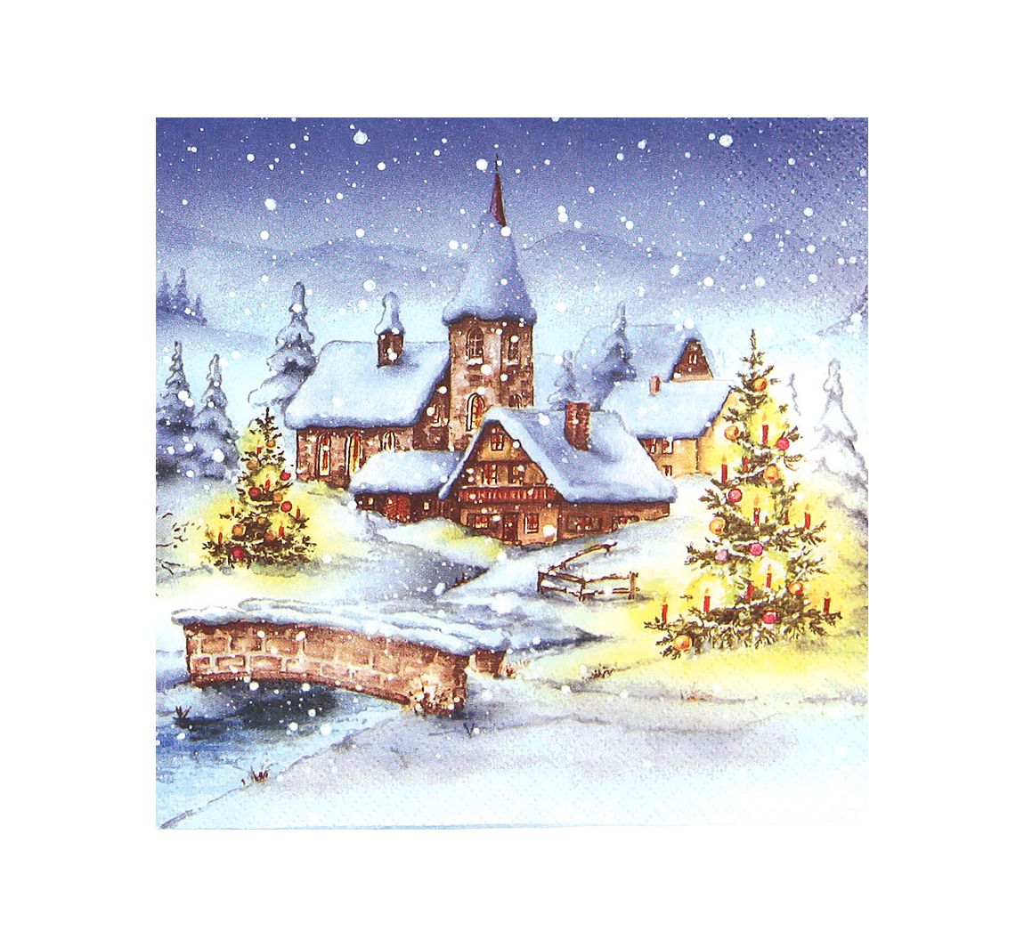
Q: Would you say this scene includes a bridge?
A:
Yes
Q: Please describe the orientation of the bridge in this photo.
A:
from side to side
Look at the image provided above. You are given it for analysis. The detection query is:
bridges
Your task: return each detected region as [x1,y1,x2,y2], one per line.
[171,599,511,718]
